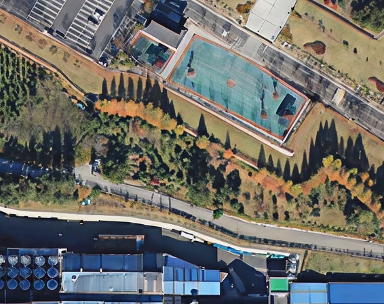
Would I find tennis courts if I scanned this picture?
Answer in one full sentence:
Yes, there is a tennis court in the image.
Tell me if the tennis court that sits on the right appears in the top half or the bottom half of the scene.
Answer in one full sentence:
The tennis court that sits on the right is in the top half of the image.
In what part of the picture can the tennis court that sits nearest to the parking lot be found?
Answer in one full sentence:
You can find the tennis court that sits nearest to the parking lot in the top area of the picture.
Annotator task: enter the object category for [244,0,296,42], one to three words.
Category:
building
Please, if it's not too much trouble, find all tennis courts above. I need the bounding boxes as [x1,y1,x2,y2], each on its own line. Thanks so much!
[168,35,310,141]
[131,32,174,72]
